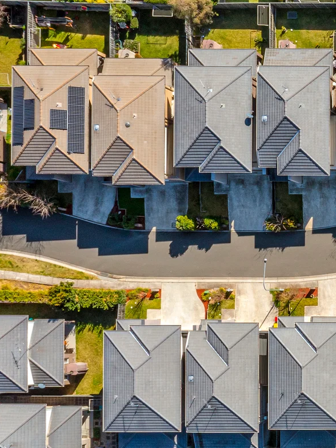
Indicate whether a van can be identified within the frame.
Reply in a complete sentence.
No, there appears to be no van in this shot.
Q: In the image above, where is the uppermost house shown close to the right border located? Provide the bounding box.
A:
[256,47,336,183]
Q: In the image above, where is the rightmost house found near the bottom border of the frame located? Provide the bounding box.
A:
[267,312,336,448]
